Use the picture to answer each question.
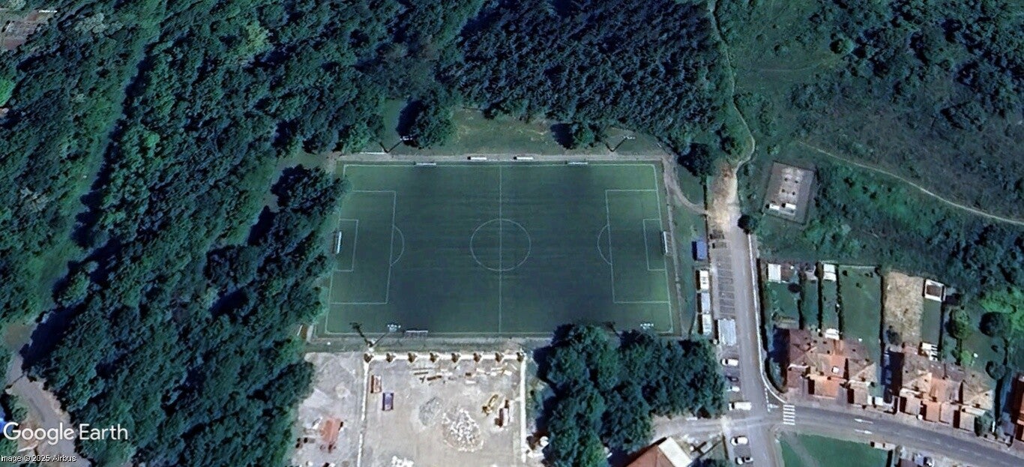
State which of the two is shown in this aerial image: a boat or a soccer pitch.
soccer pitch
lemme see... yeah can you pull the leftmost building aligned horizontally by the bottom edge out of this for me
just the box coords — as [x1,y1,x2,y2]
[622,437,693,467]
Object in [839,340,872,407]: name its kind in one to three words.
house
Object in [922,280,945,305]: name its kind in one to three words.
building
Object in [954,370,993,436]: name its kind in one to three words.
house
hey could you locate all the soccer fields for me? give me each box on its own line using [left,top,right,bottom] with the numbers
[315,160,685,341]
